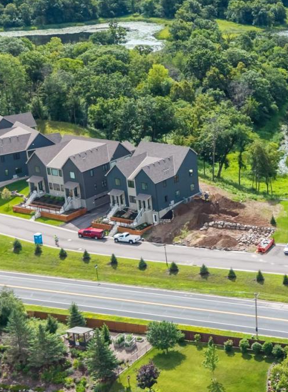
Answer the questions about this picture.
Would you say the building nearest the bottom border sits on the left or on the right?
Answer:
left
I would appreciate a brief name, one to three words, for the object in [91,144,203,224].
house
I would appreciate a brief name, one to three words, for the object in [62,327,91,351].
building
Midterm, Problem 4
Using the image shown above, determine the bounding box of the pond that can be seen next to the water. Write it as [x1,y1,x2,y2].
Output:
[8,21,161,50]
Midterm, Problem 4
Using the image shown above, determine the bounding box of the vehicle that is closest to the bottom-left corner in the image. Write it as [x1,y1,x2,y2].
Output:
[78,227,109,240]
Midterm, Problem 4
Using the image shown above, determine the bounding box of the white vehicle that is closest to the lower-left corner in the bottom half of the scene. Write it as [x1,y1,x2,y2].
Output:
[113,232,143,245]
